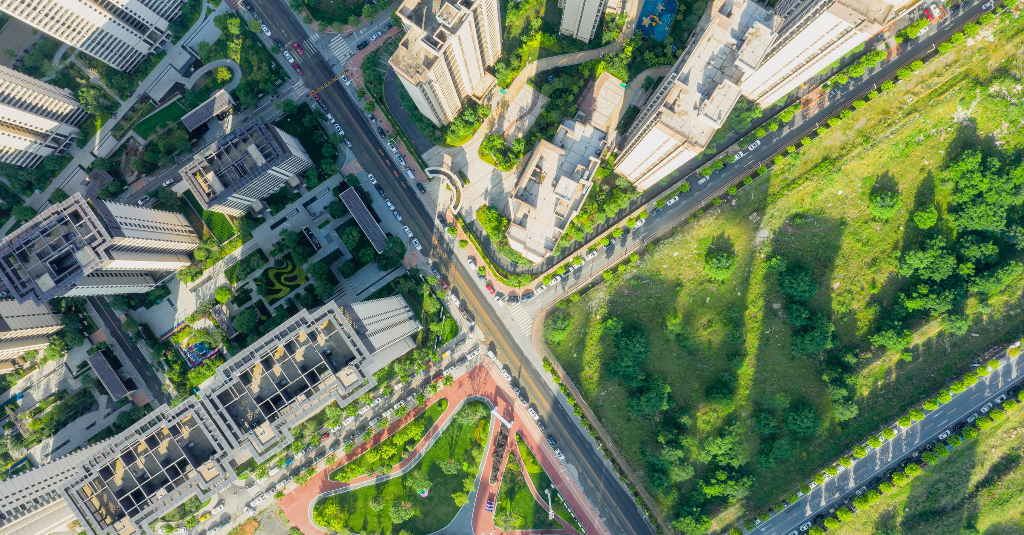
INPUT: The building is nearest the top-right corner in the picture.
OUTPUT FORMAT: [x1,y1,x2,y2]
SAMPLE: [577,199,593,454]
[739,0,905,103]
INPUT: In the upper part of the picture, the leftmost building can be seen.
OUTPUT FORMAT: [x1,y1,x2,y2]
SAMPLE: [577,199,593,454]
[0,48,87,151]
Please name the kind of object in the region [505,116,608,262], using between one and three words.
building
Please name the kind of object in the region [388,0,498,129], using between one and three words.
building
